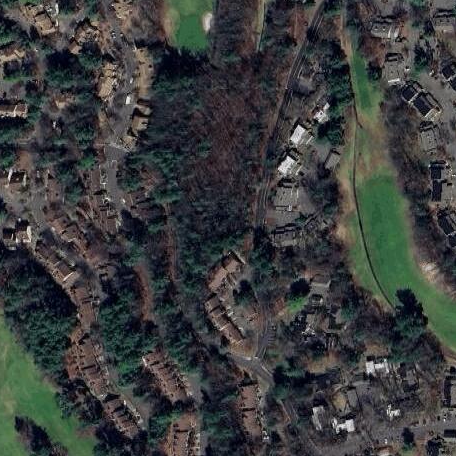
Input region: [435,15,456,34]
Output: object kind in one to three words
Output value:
house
